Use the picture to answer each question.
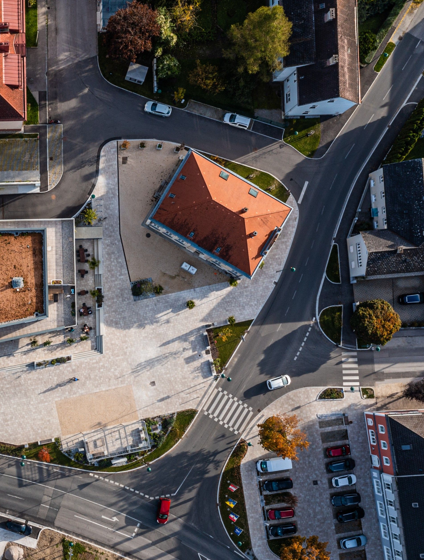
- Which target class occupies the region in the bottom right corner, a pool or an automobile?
automobile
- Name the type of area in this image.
residential area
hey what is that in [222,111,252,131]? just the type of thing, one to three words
car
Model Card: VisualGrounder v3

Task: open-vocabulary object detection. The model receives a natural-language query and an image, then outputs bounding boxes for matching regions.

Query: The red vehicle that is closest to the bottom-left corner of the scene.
[157,498,172,524]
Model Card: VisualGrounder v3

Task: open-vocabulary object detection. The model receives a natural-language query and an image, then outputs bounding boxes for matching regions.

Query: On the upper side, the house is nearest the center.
[142,149,294,281]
